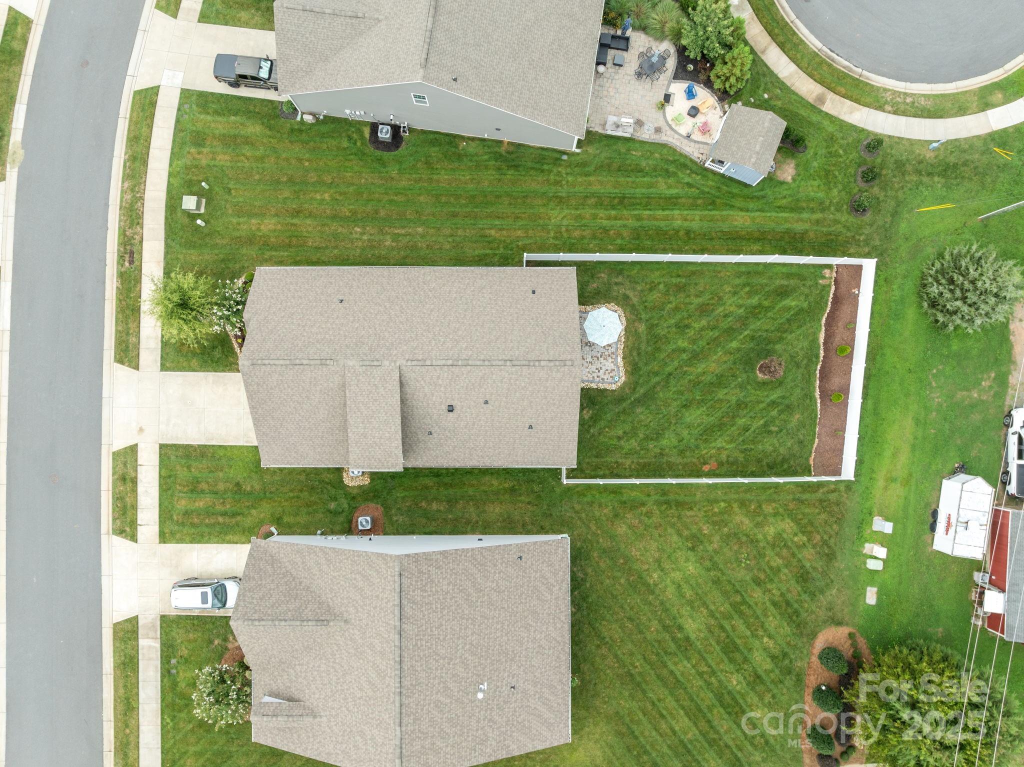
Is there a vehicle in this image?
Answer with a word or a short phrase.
Yes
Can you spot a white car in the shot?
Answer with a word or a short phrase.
Yes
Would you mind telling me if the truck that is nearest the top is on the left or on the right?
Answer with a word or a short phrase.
left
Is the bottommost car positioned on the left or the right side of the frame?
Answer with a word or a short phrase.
left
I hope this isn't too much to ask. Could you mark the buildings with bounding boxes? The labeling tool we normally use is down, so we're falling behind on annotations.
[231,520,571,767]
[240,265,581,472]
[707,102,786,184]
[960,507,1024,644]
[273,0,605,157]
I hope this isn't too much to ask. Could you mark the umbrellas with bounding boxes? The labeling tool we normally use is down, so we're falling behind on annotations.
[583,309,622,347]
[650,46,661,61]
[617,12,631,34]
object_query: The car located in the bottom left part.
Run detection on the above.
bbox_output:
[173,579,242,612]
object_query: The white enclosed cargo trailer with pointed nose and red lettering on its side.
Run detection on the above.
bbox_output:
[932,459,993,560]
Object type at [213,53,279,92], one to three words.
truck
